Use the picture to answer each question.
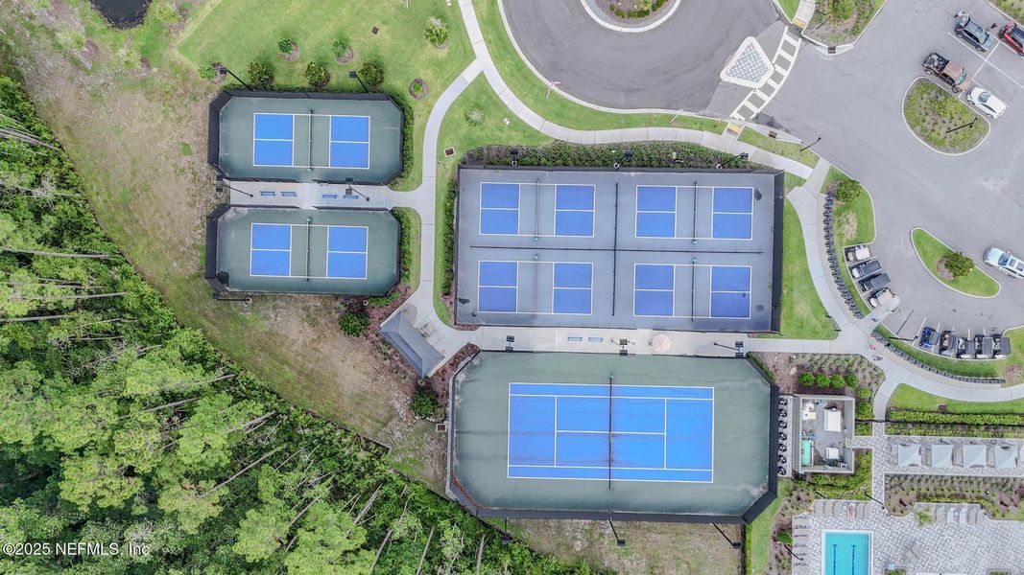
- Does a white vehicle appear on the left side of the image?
No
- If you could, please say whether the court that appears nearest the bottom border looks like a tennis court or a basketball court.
tennis court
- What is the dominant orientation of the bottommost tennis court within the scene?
from left to right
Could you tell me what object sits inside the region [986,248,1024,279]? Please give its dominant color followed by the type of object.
white car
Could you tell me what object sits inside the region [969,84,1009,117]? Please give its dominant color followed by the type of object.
white car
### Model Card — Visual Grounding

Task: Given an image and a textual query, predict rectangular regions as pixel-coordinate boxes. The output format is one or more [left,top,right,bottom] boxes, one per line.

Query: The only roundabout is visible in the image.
[582,0,680,32]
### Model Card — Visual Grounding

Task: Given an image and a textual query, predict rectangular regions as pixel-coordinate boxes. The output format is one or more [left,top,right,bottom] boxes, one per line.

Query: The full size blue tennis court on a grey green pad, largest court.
[452,351,770,515]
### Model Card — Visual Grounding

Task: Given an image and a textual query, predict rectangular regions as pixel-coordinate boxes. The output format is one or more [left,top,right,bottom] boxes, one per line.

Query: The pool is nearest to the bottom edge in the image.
[821,530,874,575]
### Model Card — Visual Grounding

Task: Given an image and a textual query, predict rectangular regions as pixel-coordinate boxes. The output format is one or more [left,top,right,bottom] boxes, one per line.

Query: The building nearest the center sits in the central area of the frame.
[379,311,445,379]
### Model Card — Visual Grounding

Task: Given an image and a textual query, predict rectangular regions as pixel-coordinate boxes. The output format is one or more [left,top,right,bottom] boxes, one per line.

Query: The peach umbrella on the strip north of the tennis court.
[652,333,671,353]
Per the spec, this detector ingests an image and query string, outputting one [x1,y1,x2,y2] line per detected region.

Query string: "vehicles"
[939,332,961,354]
[986,248,1024,279]
[927,49,973,91]
[868,287,898,306]
[969,84,1009,117]
[845,247,873,261]
[862,272,893,290]
[852,259,883,276]
[921,327,946,349]
[974,336,997,357]
[994,335,1014,356]
[958,337,979,358]
[957,8,997,48]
